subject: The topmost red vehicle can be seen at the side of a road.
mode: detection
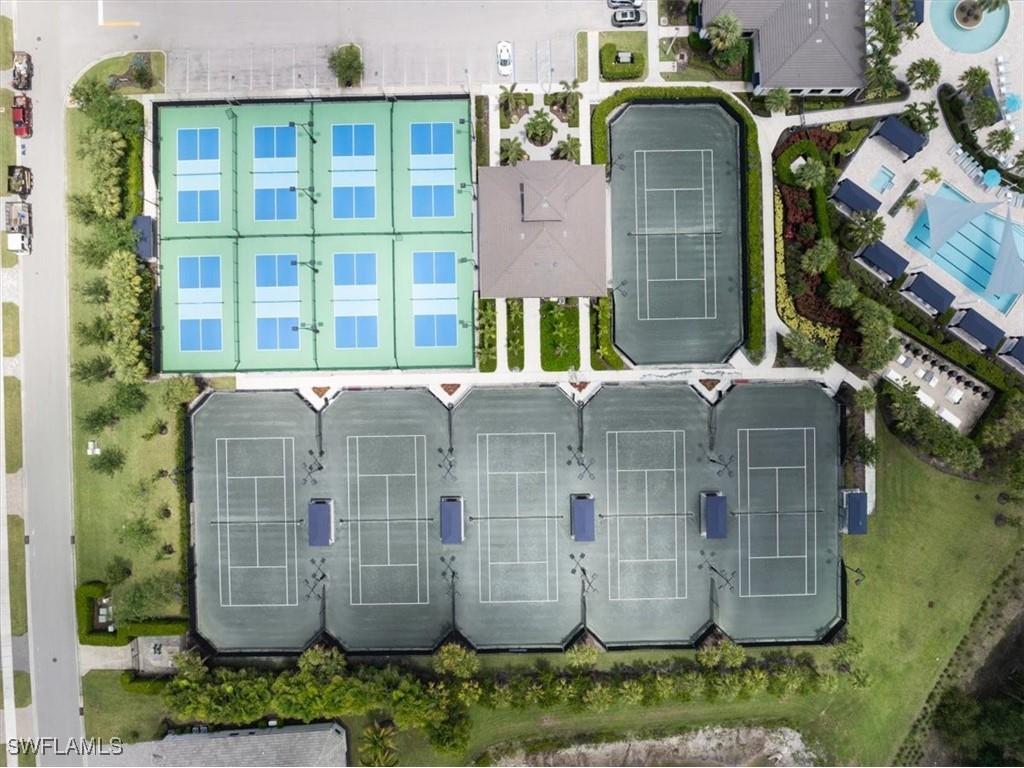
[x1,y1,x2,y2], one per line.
[11,94,33,138]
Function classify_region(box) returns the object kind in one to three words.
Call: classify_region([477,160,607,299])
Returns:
building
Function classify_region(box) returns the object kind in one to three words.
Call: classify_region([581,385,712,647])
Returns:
tennis court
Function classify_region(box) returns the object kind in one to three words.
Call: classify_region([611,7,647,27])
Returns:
car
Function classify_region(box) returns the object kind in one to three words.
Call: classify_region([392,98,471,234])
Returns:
sports court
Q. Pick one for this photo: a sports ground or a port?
sports ground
